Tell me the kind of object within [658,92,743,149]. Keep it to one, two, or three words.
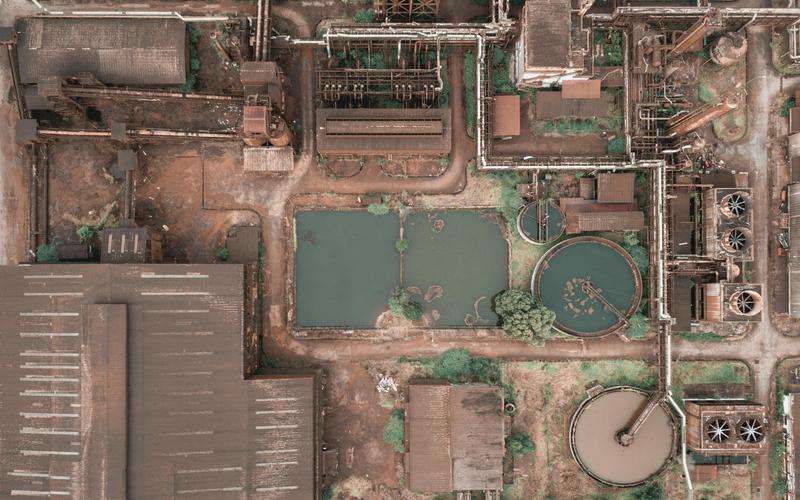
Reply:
chimney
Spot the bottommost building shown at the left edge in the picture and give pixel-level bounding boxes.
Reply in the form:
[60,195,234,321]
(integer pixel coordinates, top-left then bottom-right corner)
[0,264,316,500]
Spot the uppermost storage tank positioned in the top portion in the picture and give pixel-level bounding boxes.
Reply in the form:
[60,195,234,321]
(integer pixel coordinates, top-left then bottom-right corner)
[695,30,747,73]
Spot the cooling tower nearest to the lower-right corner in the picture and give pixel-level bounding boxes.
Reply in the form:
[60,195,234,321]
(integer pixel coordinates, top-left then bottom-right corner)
[681,405,772,452]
